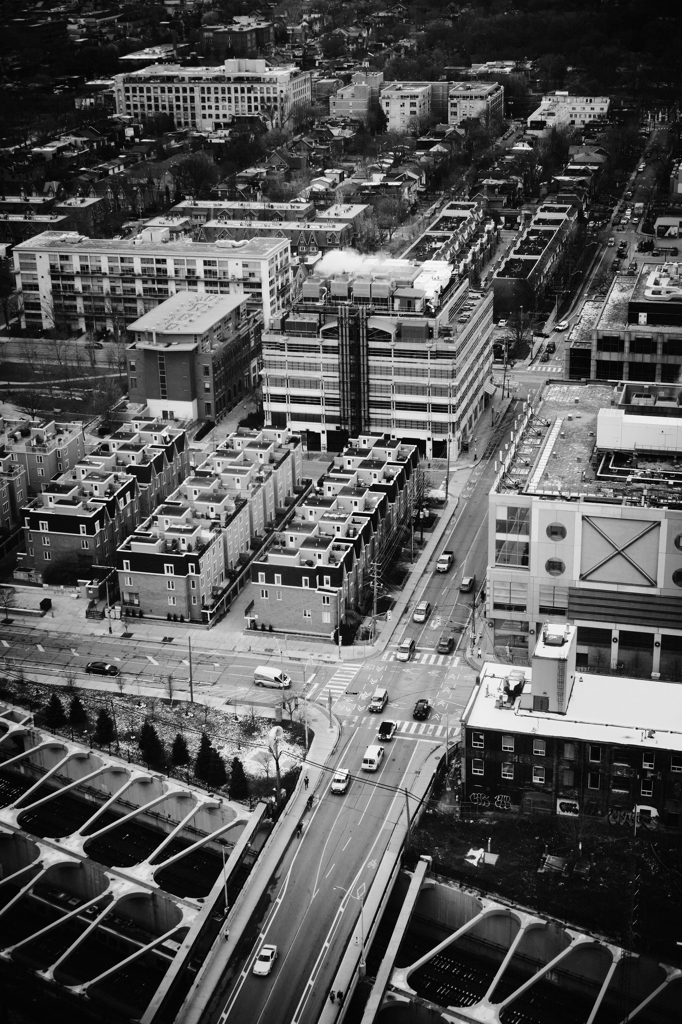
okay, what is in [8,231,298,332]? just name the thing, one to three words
building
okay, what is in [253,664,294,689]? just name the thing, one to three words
vehicle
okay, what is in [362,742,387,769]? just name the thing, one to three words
vehicle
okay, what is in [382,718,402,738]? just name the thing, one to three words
car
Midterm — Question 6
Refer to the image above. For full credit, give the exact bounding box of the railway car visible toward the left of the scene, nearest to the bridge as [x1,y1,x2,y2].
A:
[129,937,195,994]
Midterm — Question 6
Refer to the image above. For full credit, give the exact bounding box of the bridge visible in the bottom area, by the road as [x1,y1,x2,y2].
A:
[156,796,411,1024]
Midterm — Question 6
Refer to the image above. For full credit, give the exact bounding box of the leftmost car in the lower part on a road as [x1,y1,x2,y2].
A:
[86,661,121,676]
